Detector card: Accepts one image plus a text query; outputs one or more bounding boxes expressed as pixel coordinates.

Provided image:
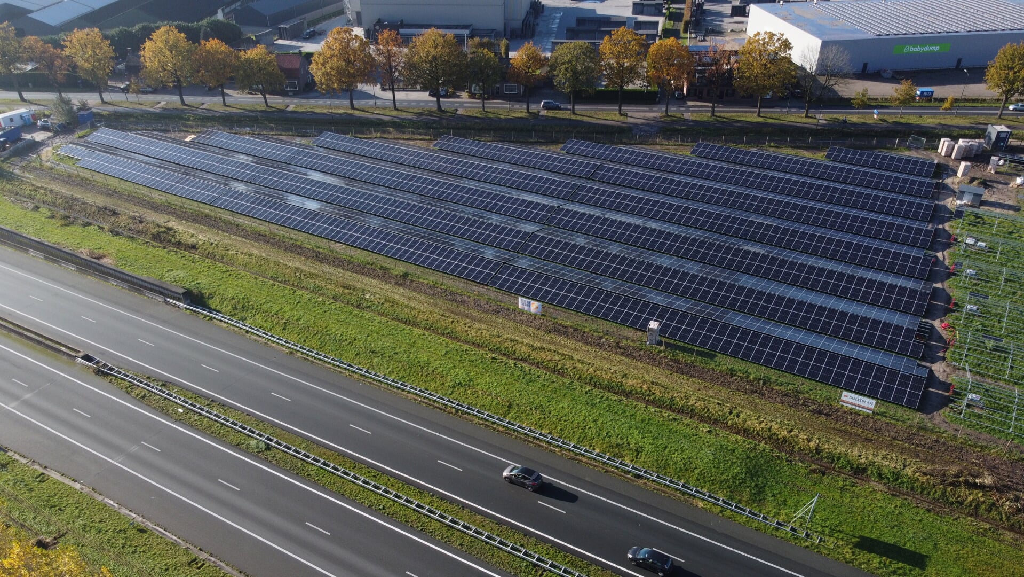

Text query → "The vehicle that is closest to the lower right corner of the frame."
[627,543,677,575]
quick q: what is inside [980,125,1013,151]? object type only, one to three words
building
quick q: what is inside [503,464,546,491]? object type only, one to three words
car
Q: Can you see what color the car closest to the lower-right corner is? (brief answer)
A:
black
